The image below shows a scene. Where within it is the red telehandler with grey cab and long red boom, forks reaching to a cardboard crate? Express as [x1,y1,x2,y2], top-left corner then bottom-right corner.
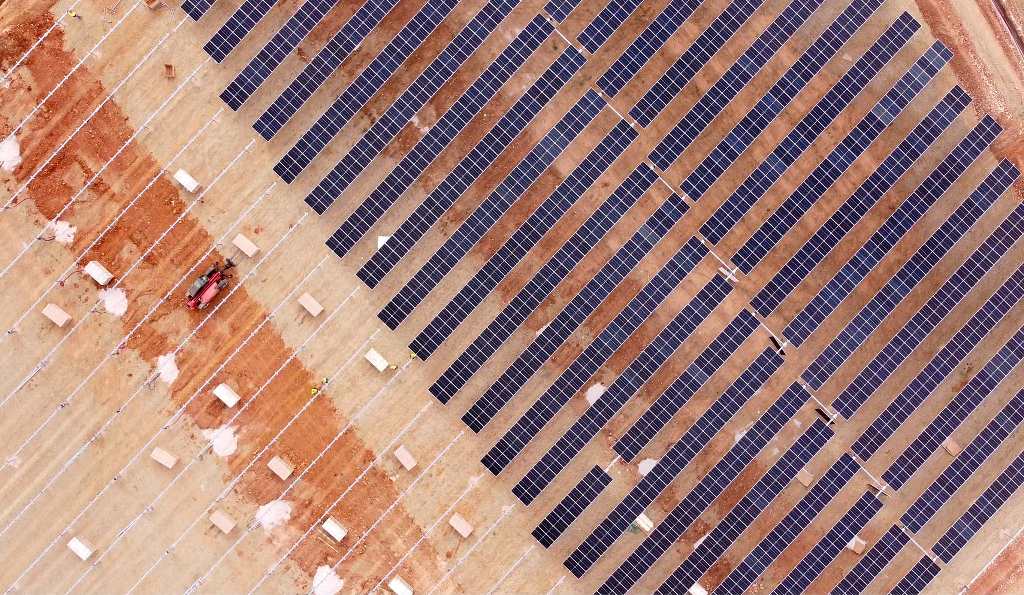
[183,251,244,310]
